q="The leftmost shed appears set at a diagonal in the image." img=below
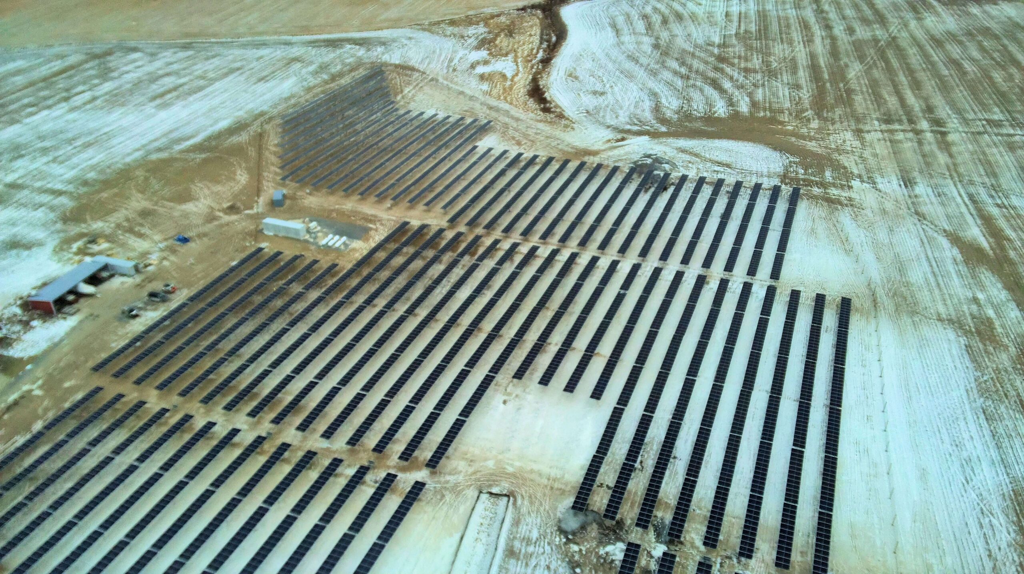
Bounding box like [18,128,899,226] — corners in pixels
[27,262,112,314]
